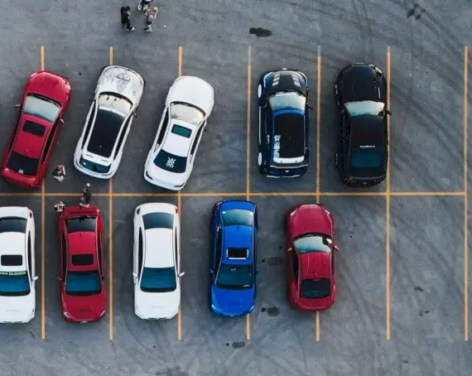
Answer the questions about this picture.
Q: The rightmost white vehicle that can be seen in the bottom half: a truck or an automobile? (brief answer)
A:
automobile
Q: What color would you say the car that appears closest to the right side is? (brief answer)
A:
black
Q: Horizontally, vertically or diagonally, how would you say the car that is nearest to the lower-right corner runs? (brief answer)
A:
vertically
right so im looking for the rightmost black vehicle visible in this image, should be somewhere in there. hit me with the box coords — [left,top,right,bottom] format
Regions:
[333,63,392,190]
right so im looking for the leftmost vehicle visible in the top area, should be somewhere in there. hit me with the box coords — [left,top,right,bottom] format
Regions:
[1,69,69,191]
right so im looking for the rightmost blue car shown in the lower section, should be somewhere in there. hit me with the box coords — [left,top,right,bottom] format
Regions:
[208,202,265,317]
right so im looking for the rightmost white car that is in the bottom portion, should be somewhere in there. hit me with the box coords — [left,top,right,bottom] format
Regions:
[130,203,187,320]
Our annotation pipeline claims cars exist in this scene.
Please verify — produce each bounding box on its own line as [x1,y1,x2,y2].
[286,204,344,312]
[208,202,265,317]
[130,203,187,320]
[258,70,315,176]
[145,74,214,195]
[0,207,42,324]
[75,64,143,181]
[56,207,113,323]
[1,69,69,191]
[333,63,392,190]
